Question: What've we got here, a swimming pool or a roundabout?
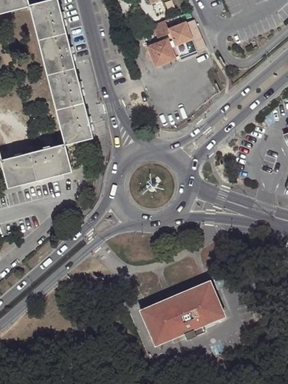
roundabout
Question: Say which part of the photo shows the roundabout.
center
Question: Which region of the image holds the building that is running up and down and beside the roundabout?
top left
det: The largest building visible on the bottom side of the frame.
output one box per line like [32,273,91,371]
[140,280,226,347]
